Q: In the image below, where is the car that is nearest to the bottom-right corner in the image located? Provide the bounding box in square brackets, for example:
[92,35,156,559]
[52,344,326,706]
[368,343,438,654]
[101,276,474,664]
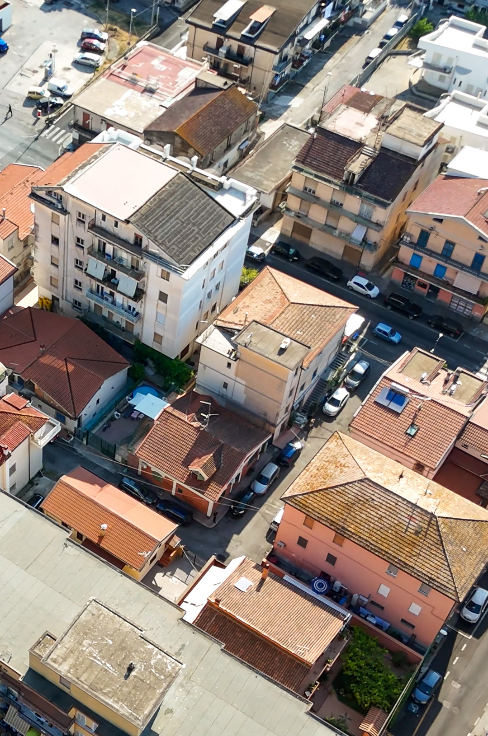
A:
[409,663,445,708]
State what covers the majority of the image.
buildings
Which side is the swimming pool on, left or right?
left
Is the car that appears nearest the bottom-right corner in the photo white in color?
No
